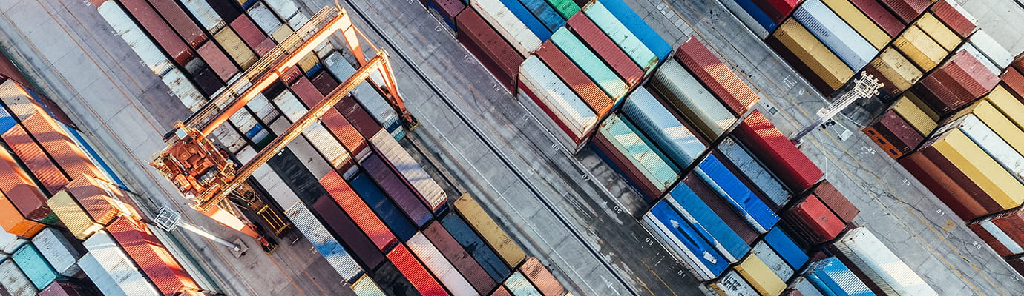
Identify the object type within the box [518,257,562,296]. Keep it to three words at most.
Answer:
shipping container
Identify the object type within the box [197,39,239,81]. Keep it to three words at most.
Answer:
shipping container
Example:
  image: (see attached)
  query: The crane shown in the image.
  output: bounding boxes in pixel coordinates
[133,0,426,263]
